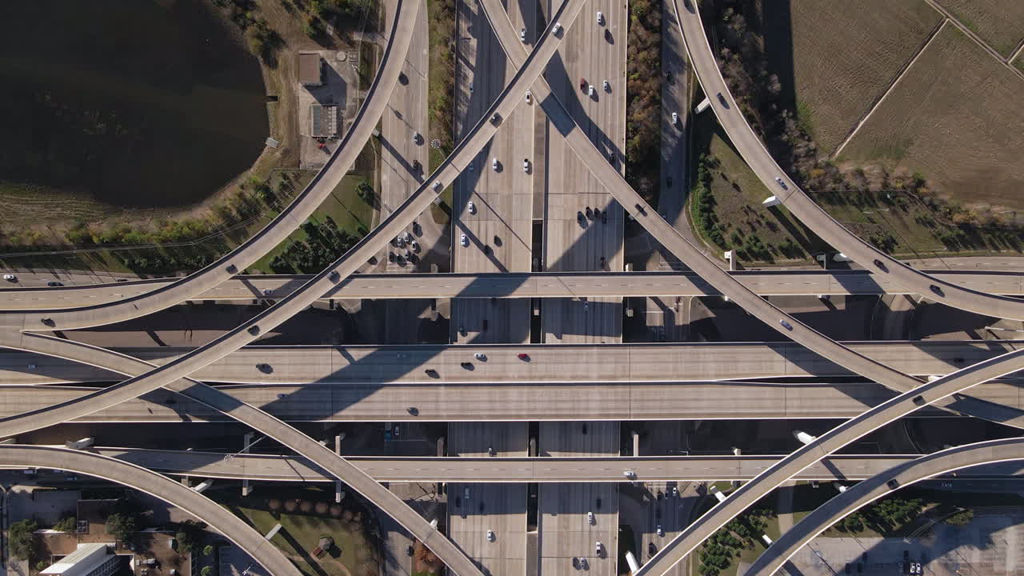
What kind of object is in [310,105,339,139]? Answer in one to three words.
building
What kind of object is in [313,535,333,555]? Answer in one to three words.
gazebo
